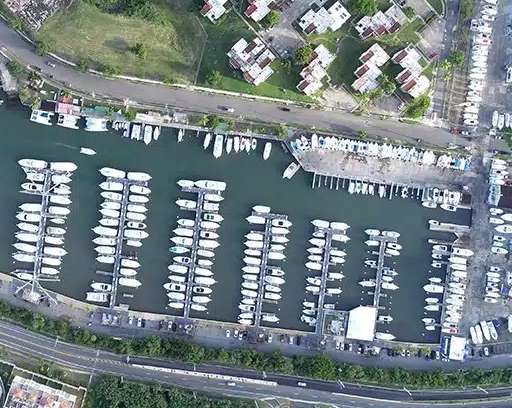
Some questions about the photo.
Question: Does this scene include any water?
Yes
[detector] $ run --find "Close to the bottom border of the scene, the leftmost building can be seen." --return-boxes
[6,375,78,408]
